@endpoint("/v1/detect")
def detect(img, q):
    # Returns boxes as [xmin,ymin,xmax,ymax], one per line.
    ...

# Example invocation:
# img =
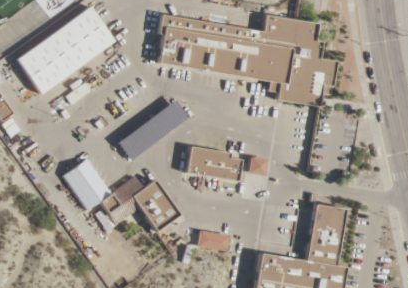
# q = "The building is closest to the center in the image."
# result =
[186,148,244,181]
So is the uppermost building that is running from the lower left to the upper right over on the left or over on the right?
left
